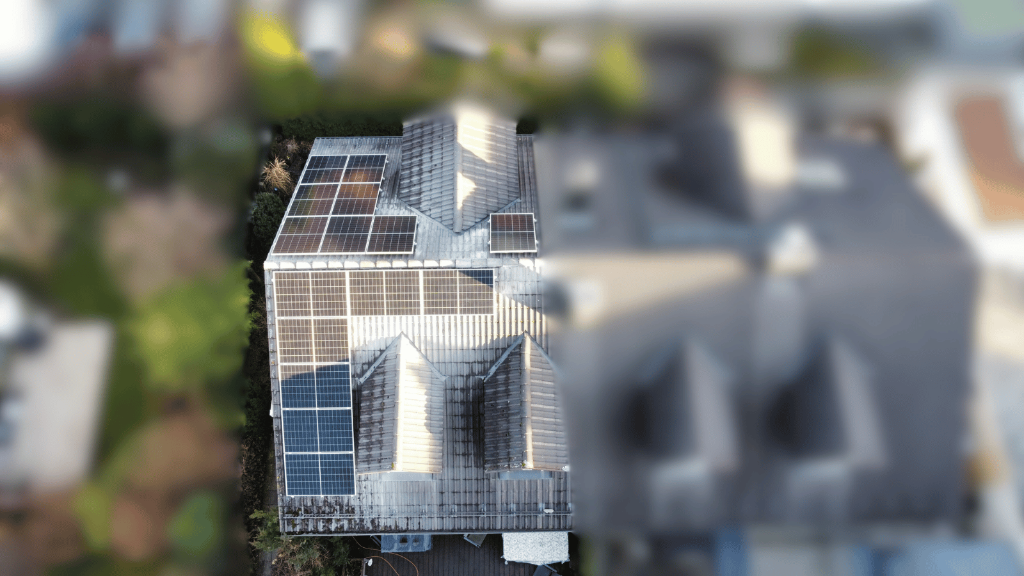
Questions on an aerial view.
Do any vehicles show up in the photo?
Yes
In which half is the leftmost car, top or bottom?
top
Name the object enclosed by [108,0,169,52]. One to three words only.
car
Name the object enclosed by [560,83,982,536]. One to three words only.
house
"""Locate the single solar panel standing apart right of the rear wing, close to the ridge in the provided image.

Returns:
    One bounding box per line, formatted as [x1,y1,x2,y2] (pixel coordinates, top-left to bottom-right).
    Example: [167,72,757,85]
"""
[486,213,540,251]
